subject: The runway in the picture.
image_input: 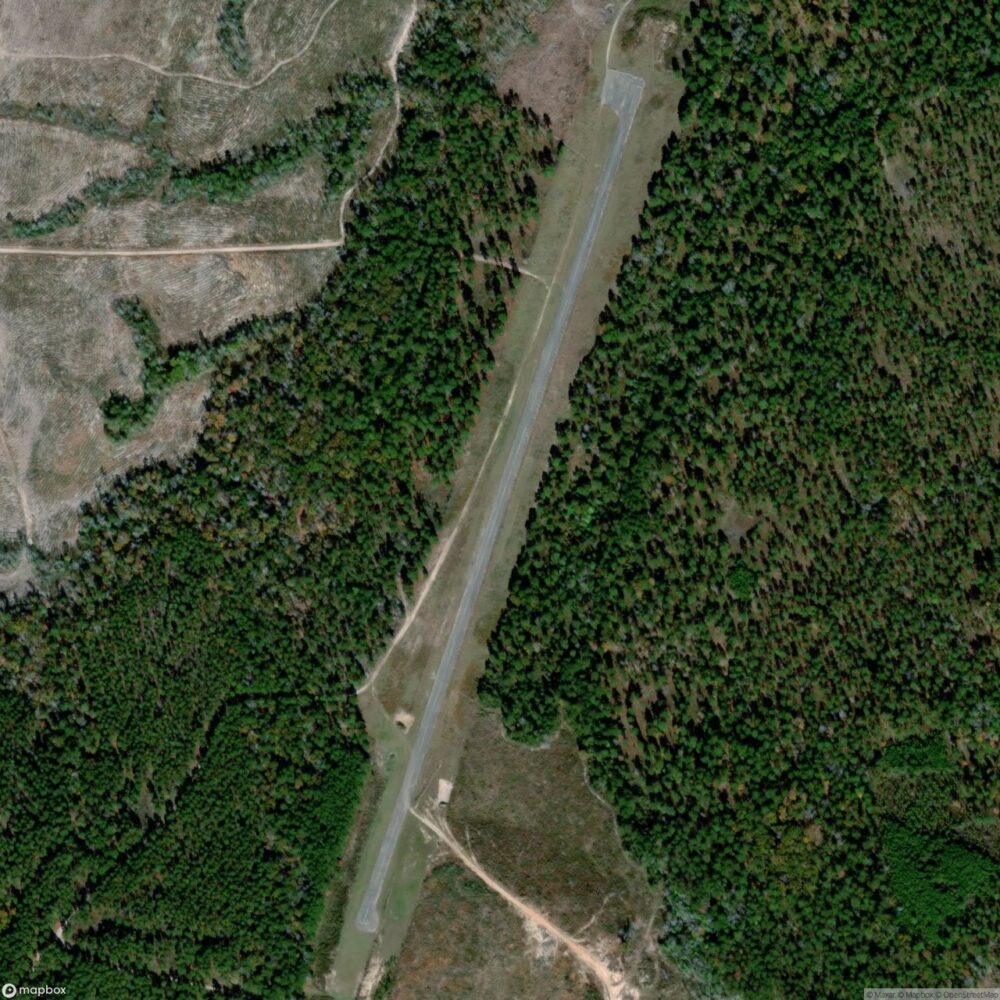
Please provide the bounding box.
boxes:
[356,69,646,933]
